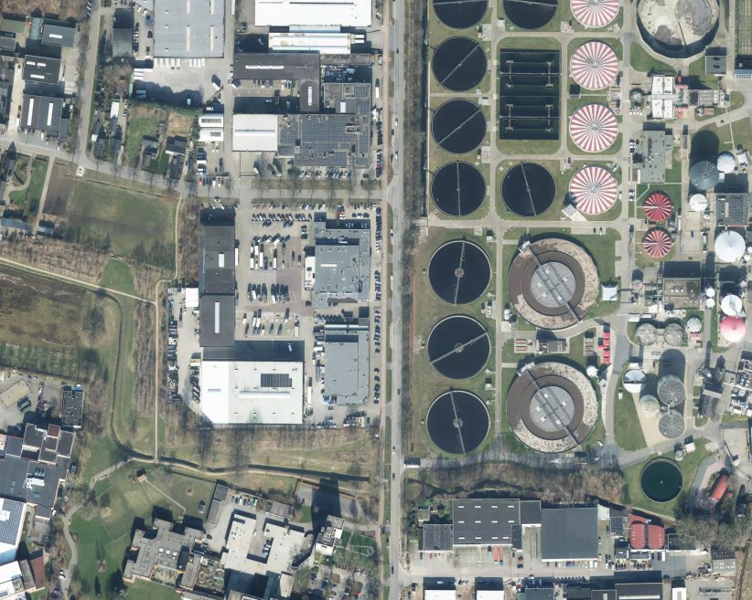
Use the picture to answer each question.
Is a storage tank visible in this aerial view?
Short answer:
Yes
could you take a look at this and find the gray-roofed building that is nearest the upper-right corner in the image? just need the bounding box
[705,56,727,74]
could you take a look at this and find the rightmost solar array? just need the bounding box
[729,200,746,221]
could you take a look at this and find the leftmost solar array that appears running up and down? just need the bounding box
[0,501,23,545]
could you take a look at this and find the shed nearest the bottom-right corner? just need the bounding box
[713,559,736,574]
